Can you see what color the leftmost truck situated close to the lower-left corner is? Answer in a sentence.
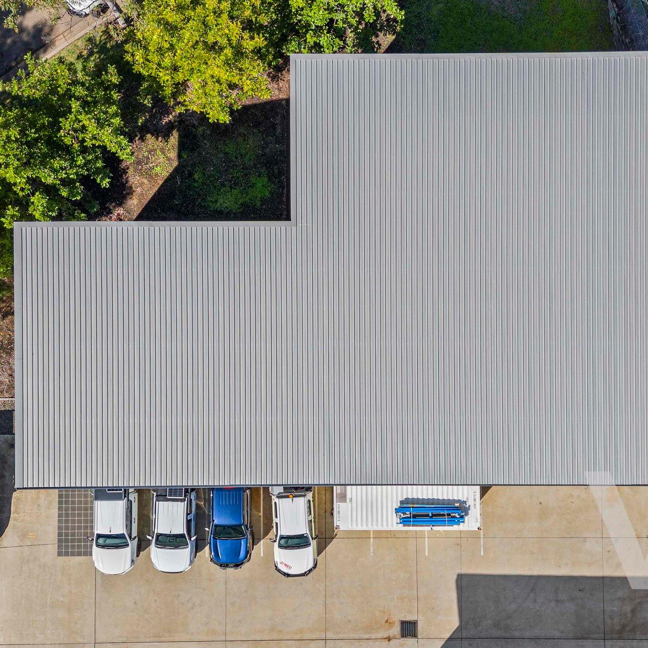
The leftmost truck situated close to the lower-left corner is white.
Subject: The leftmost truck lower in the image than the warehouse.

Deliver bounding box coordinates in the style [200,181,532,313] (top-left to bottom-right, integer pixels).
[88,487,142,577]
